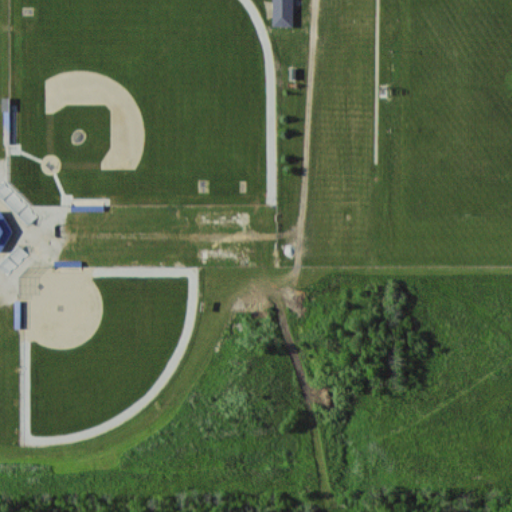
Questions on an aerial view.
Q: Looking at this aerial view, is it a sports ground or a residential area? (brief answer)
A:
sports ground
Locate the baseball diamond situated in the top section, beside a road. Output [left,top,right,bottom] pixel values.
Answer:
[10,0,276,206]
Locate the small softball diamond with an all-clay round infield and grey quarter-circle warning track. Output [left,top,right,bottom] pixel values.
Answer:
[20,267,198,448]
